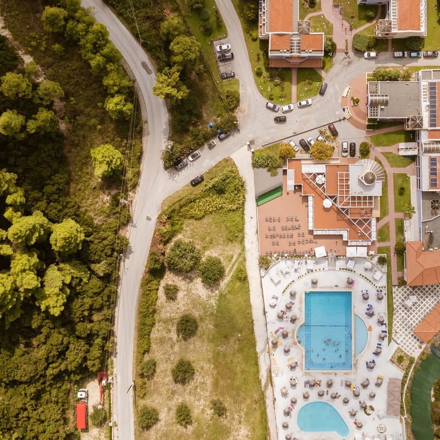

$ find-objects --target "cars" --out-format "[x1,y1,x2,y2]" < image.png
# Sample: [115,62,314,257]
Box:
[273,116,287,123]
[222,72,235,79]
[394,52,407,58]
[215,131,230,141]
[206,140,218,149]
[364,53,377,59]
[175,160,189,170]
[329,123,339,137]
[190,175,204,187]
[287,139,300,153]
[306,135,313,147]
[281,104,294,112]
[297,100,312,107]
[217,44,232,52]
[424,52,438,58]
[409,52,422,58]
[218,54,233,61]
[319,82,328,97]
[188,150,202,161]
[265,102,279,112]
[342,142,347,157]
[349,142,356,157]
[299,137,309,151]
